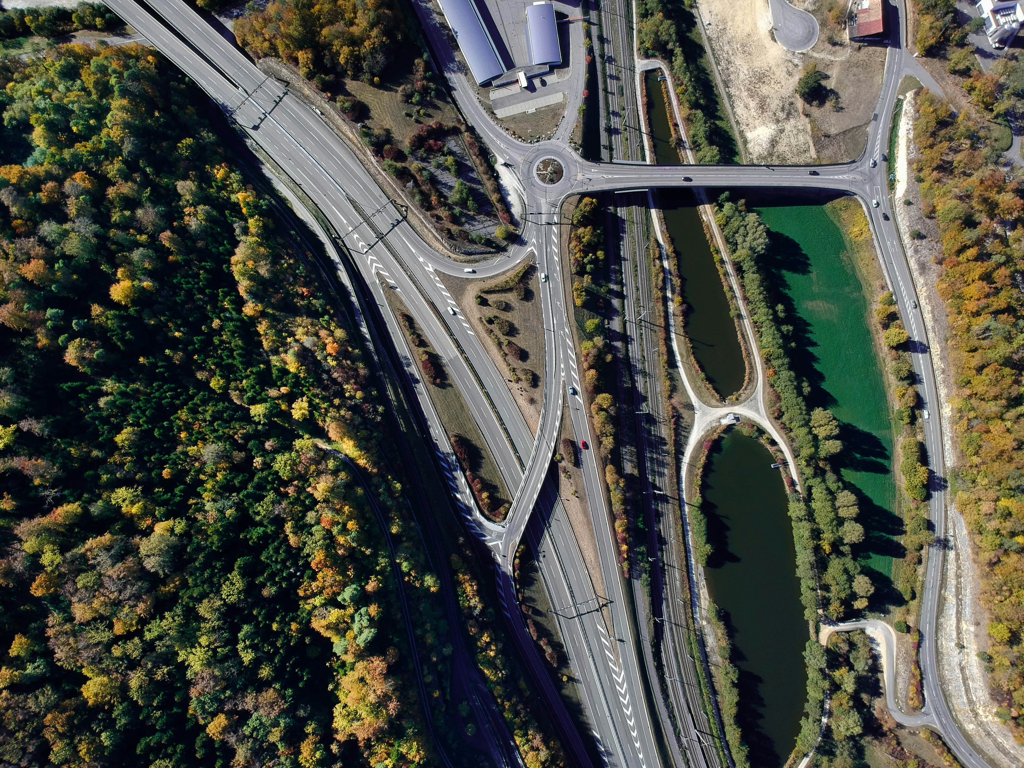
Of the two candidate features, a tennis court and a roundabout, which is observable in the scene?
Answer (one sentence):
It is a roundabout that can be seen here.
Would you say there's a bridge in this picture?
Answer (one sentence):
Yes, there's a bridge here.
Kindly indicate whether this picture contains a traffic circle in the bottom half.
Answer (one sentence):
No, no traffic circle can be made out in the bottom half.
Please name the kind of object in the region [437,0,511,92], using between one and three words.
building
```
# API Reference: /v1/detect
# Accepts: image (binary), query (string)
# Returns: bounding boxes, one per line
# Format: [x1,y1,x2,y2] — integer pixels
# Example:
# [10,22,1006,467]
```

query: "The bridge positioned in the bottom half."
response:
[505,430,559,536]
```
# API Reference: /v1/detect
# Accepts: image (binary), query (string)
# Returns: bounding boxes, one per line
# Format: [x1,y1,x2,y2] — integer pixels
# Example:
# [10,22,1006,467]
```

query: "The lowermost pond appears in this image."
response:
[701,427,809,768]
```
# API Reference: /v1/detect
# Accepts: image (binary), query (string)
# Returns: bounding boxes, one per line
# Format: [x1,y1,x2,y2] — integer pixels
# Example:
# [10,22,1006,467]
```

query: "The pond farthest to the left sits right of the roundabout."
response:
[646,68,746,399]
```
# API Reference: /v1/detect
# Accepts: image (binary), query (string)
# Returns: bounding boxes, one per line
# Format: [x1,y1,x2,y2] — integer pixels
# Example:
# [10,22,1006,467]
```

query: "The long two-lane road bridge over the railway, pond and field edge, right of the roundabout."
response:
[566,145,871,206]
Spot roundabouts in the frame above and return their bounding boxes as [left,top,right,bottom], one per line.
[518,142,580,196]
